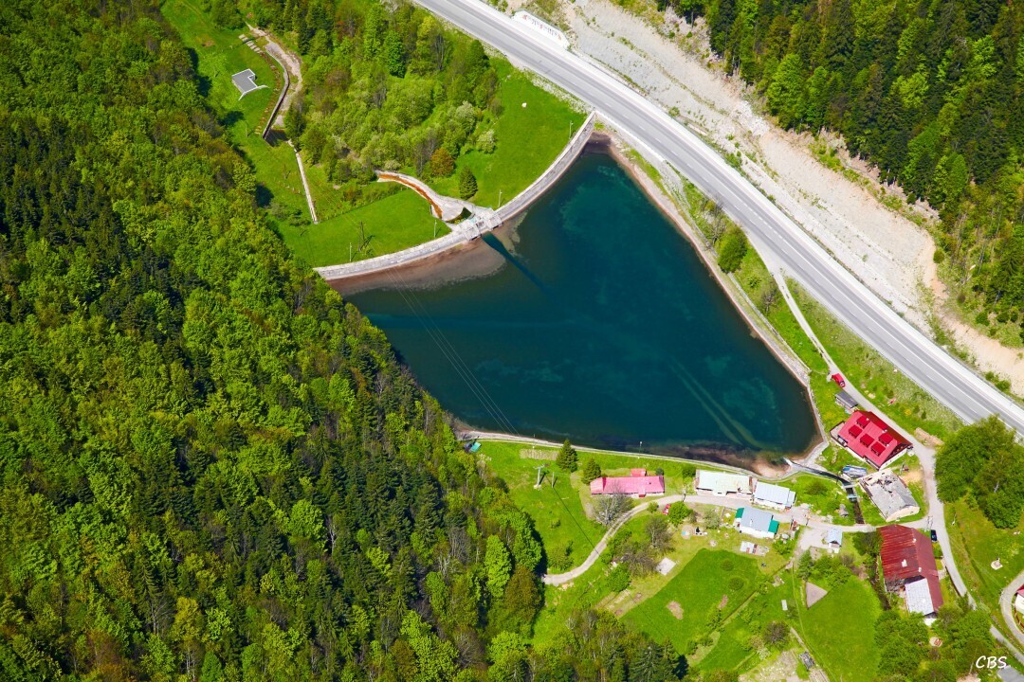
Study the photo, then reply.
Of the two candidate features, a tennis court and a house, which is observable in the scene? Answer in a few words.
house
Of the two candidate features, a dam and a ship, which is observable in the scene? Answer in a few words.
dam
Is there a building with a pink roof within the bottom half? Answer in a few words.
Yes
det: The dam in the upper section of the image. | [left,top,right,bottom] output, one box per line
[317,117,596,284]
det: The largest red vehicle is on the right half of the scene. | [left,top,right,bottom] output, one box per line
[833,370,847,386]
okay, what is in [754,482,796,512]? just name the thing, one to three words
house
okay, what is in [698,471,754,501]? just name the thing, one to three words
house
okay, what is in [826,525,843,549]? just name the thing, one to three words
shed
